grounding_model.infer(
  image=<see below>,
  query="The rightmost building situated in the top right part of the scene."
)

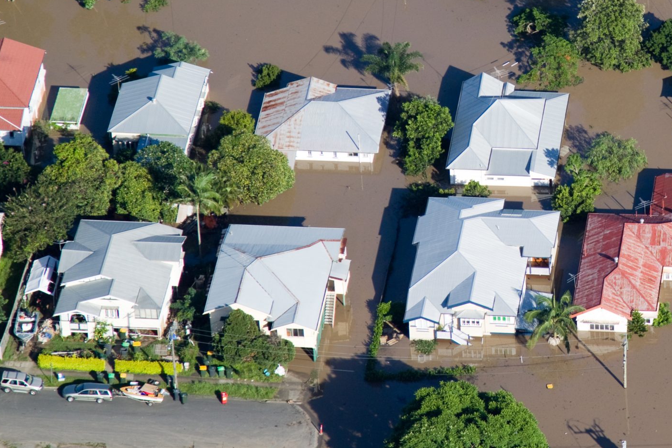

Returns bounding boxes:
[445,58,570,186]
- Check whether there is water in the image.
Yes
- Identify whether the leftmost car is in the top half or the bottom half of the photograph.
bottom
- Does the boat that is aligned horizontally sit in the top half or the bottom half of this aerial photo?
bottom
